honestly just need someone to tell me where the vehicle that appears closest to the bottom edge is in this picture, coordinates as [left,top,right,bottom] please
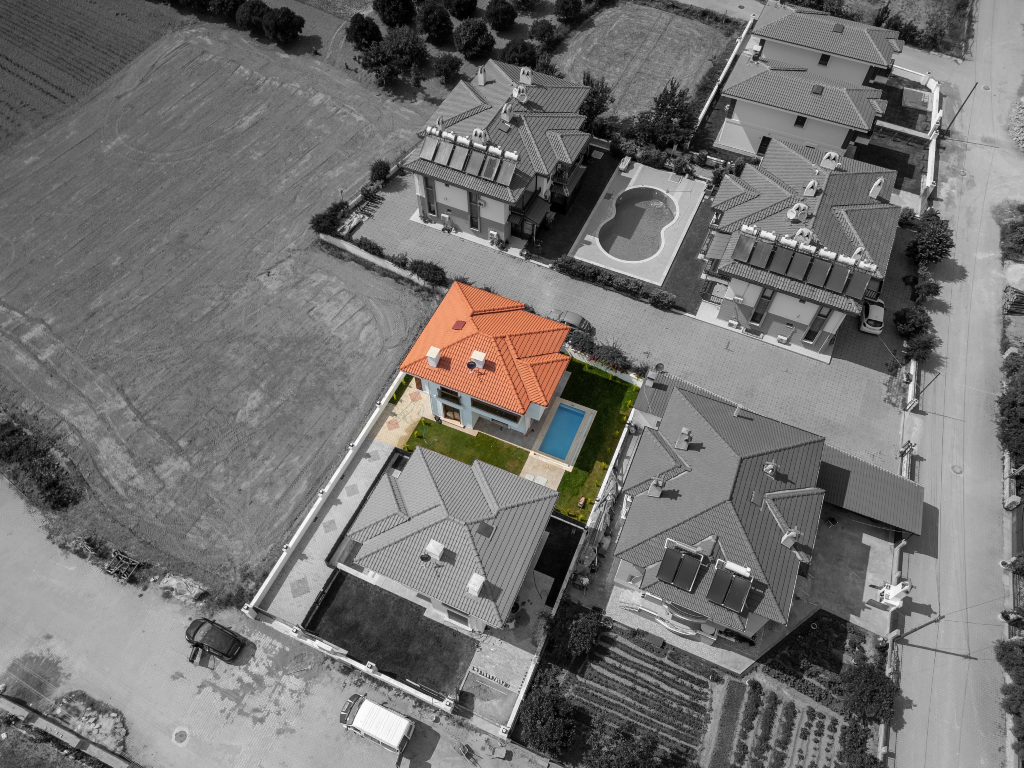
[341,694,422,757]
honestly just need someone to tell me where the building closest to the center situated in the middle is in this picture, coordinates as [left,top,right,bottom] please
[398,279,572,438]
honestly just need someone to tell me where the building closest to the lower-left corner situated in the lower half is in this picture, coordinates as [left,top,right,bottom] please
[345,444,561,633]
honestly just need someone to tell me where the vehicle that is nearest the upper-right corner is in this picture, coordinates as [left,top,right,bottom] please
[859,298,889,337]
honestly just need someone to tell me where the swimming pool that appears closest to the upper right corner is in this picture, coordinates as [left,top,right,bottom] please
[568,163,706,286]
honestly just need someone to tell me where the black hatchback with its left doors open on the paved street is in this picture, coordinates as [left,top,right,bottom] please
[182,618,248,670]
